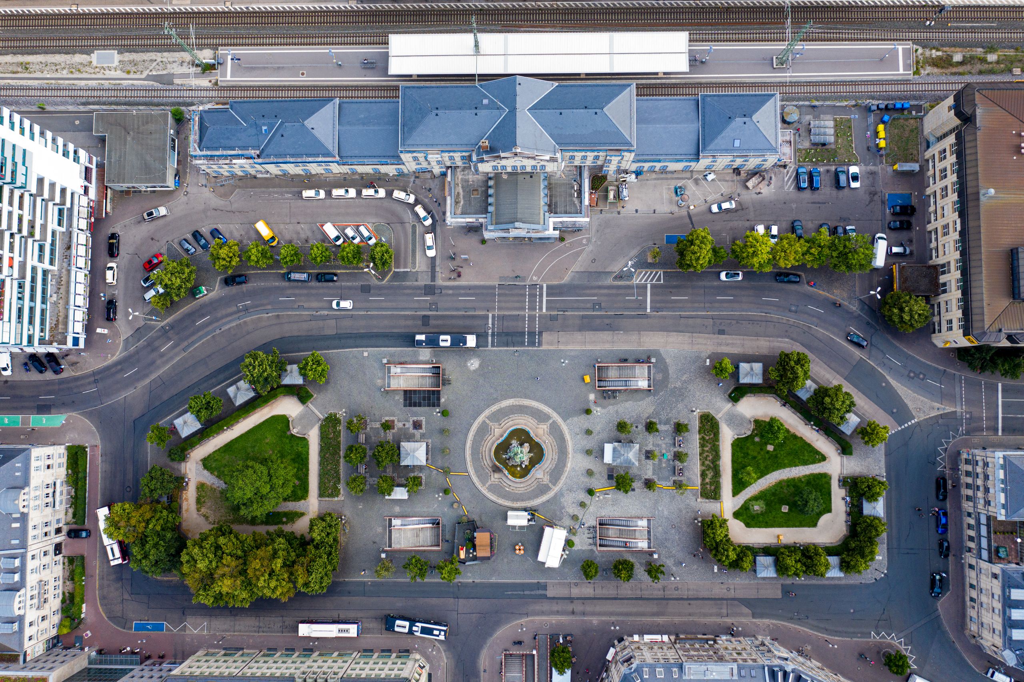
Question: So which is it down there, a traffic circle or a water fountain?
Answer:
water fountain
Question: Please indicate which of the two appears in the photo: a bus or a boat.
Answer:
bus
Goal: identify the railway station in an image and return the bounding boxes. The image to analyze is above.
[199,75,792,229]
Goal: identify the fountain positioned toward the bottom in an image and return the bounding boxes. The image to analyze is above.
[464,398,573,509]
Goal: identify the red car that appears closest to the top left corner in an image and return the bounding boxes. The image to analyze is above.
[142,253,164,273]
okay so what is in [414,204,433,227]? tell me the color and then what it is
white car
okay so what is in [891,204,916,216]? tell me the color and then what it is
black vehicle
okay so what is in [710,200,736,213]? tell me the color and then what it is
white vehicle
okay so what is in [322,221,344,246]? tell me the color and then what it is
white vehicle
